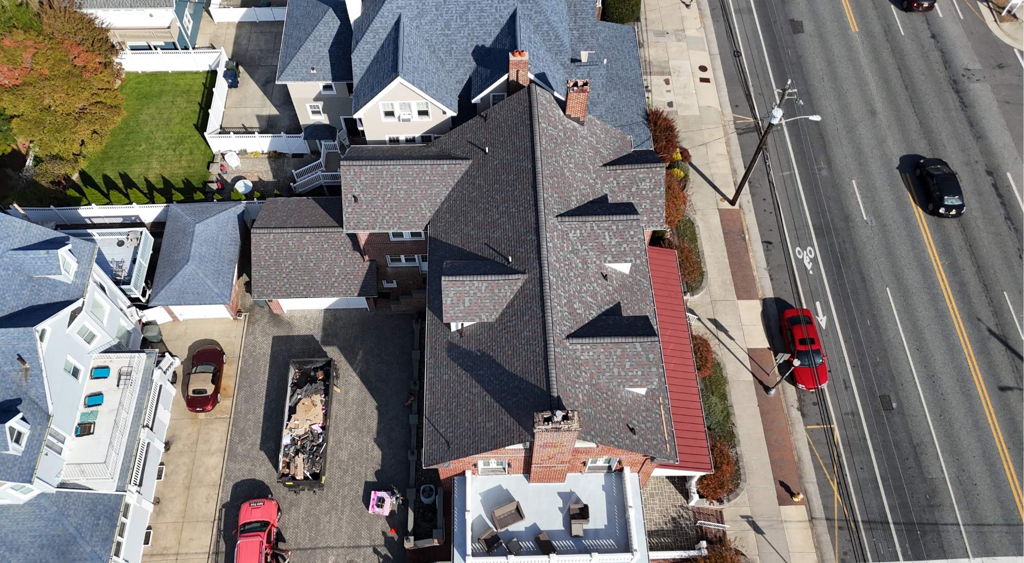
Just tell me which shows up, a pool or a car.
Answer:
car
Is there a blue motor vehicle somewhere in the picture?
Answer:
No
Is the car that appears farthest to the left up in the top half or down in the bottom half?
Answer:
bottom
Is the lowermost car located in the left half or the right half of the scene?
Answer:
left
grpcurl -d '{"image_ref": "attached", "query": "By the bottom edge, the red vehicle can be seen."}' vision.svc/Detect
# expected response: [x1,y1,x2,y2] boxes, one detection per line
[236,499,301,563]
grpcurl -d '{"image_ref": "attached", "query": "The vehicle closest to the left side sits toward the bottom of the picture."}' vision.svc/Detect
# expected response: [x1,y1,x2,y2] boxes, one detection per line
[183,341,228,416]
